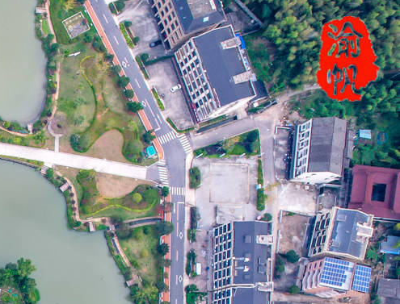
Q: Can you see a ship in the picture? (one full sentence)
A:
No, I can't see a single ship in this photo.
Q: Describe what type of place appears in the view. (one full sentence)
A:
It's a residential area.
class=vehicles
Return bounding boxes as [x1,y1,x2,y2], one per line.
[196,261,204,276]
[149,38,162,47]
[169,83,181,92]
